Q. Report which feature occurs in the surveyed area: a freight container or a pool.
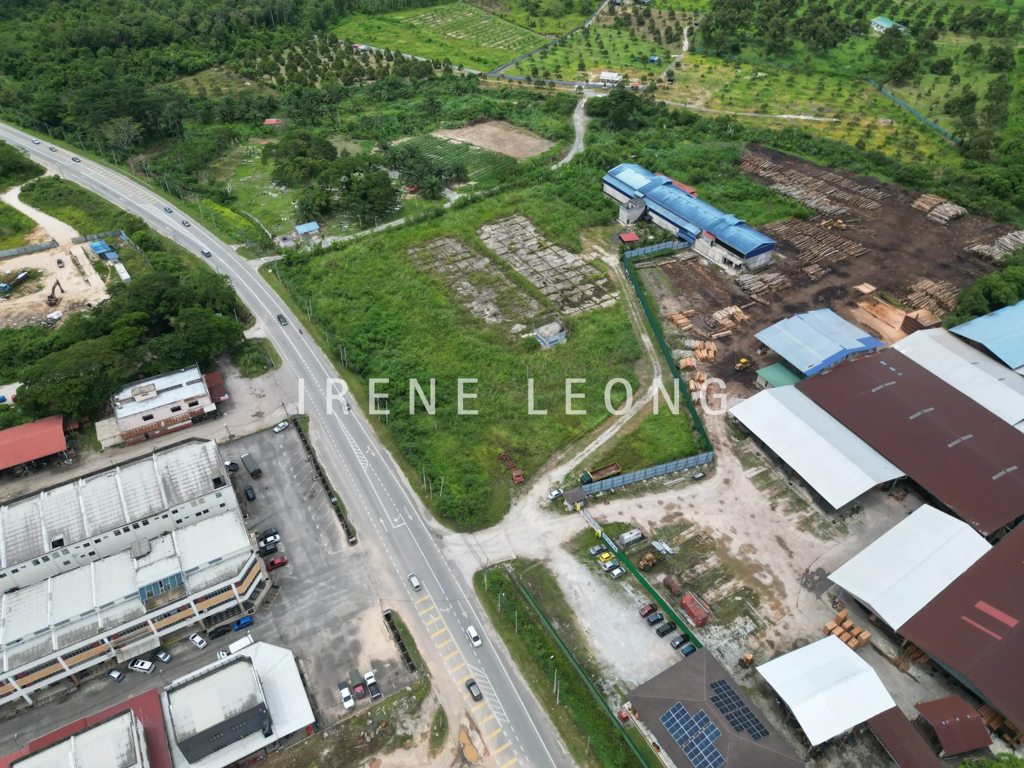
freight container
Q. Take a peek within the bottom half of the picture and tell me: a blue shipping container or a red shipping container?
red shipping container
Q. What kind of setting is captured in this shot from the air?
industrial area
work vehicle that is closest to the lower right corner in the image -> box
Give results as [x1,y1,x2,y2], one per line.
[727,647,759,675]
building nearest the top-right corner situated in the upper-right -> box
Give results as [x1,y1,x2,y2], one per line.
[867,17,905,33]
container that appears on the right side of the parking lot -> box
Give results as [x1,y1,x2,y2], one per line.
[679,593,708,627]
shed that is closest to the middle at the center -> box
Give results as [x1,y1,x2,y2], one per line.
[533,321,567,347]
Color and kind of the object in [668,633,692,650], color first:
gray car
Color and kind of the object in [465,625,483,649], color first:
white car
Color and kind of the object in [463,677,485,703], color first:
gray car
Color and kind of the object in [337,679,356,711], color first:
white vehicle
